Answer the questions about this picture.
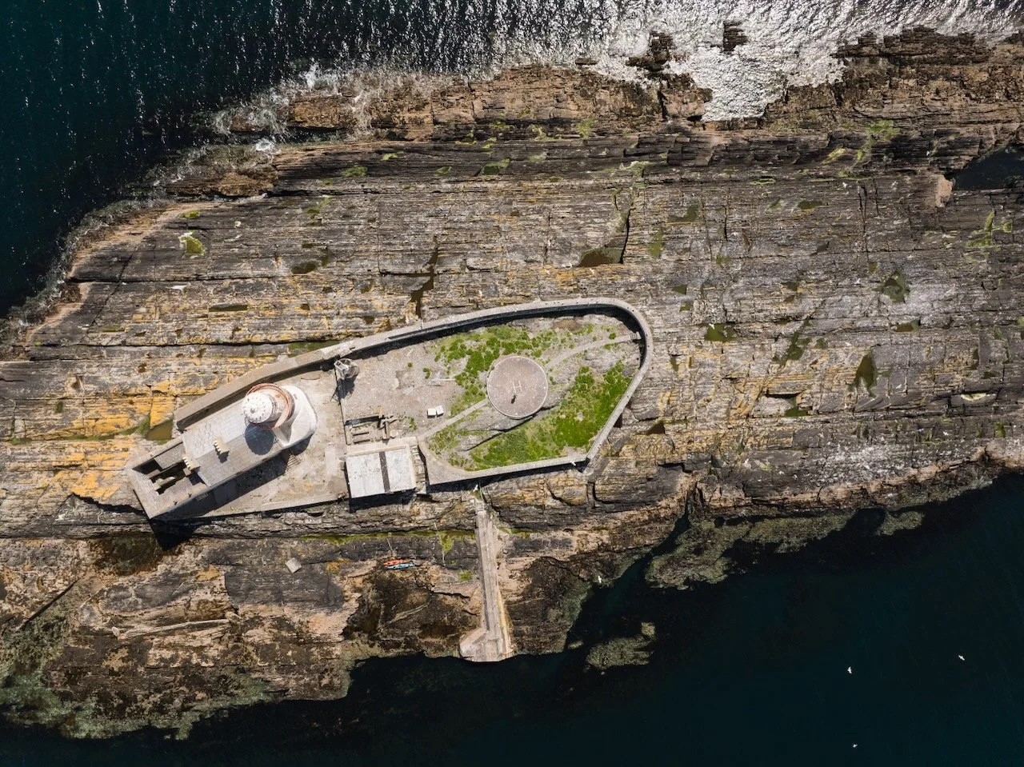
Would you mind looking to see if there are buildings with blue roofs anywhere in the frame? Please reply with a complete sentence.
No, I can't see a single building with a blue roof in this photo.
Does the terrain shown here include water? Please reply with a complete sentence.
Yes, there is water in the image.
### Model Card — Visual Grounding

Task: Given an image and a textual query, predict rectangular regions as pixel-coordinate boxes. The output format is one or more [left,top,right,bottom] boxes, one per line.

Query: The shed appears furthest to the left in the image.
[122,438,223,519]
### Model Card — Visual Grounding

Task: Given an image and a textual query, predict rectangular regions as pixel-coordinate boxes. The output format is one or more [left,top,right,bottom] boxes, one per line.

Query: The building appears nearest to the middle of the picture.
[336,436,419,497]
